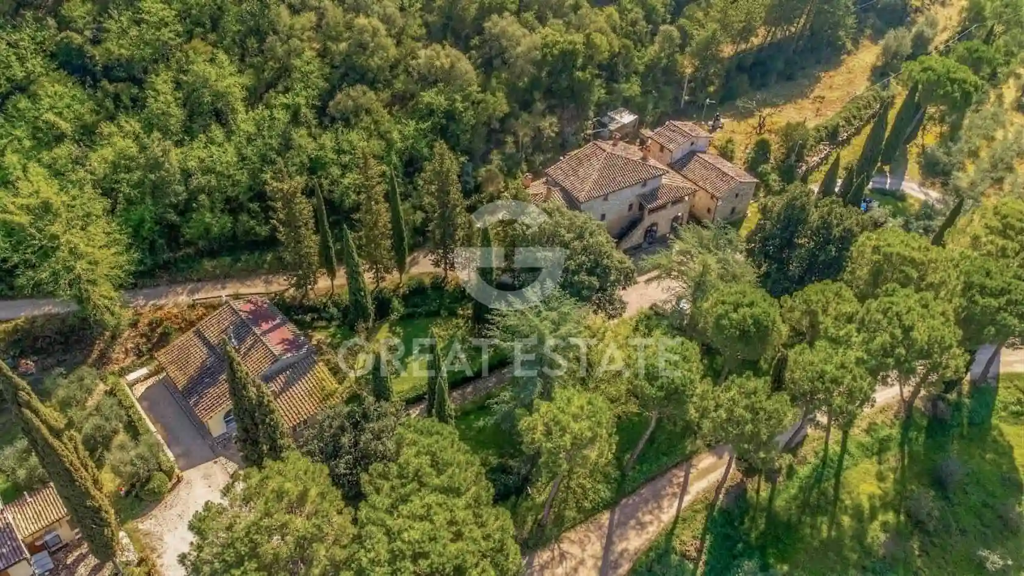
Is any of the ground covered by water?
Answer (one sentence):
No, the picture contains no water.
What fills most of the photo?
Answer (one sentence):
What you mostly see from above here is trees.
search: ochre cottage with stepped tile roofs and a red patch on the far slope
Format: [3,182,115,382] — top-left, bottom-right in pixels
[152,296,342,440]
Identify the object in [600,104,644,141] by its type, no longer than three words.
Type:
shed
